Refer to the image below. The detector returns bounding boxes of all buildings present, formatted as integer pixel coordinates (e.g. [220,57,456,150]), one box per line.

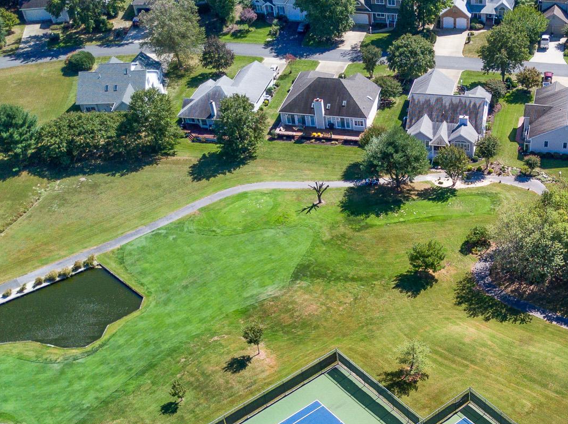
[344,0,403,28]
[402,65,493,160]
[537,0,568,36]
[274,69,380,143]
[175,56,280,143]
[438,0,514,30]
[77,43,180,128]
[513,76,568,157]
[252,0,300,20]
[19,0,66,24]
